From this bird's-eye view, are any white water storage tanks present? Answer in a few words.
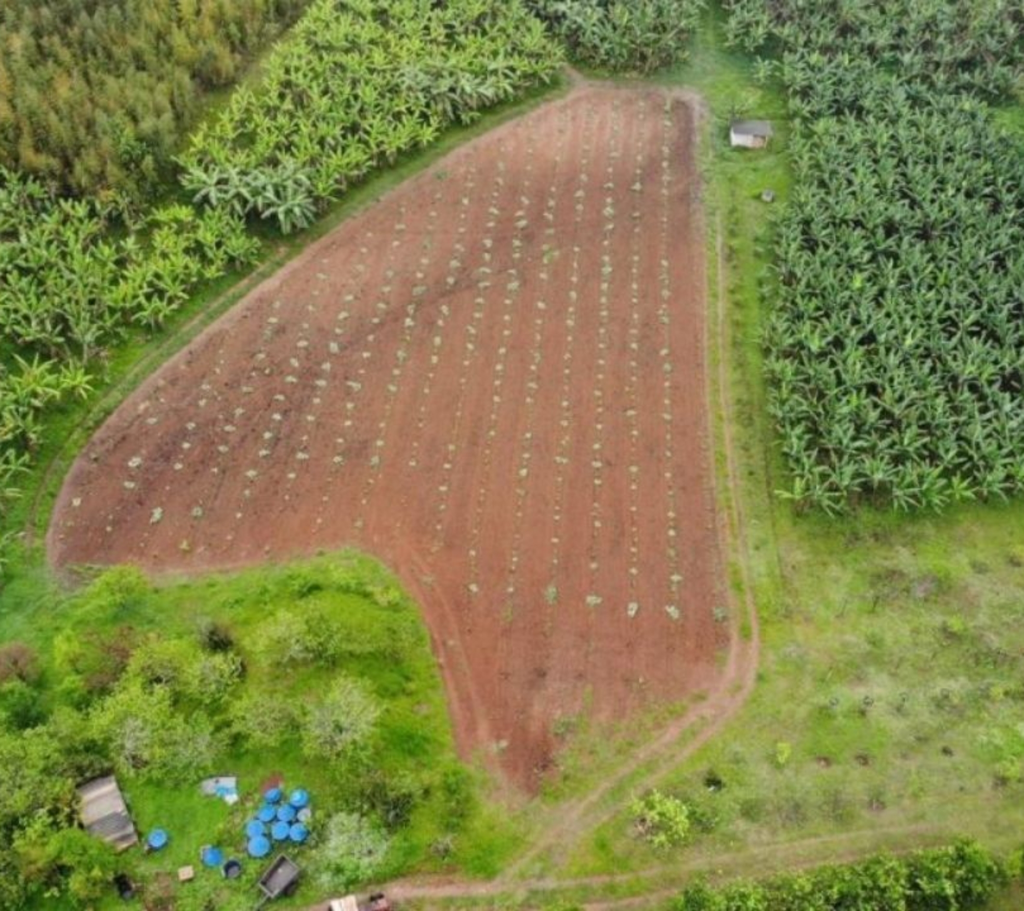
No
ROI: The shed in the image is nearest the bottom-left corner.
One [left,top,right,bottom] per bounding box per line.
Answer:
[84,772,151,856]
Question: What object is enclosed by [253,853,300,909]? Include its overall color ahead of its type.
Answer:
gray trailer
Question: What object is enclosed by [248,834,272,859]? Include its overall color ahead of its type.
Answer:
blue water tank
